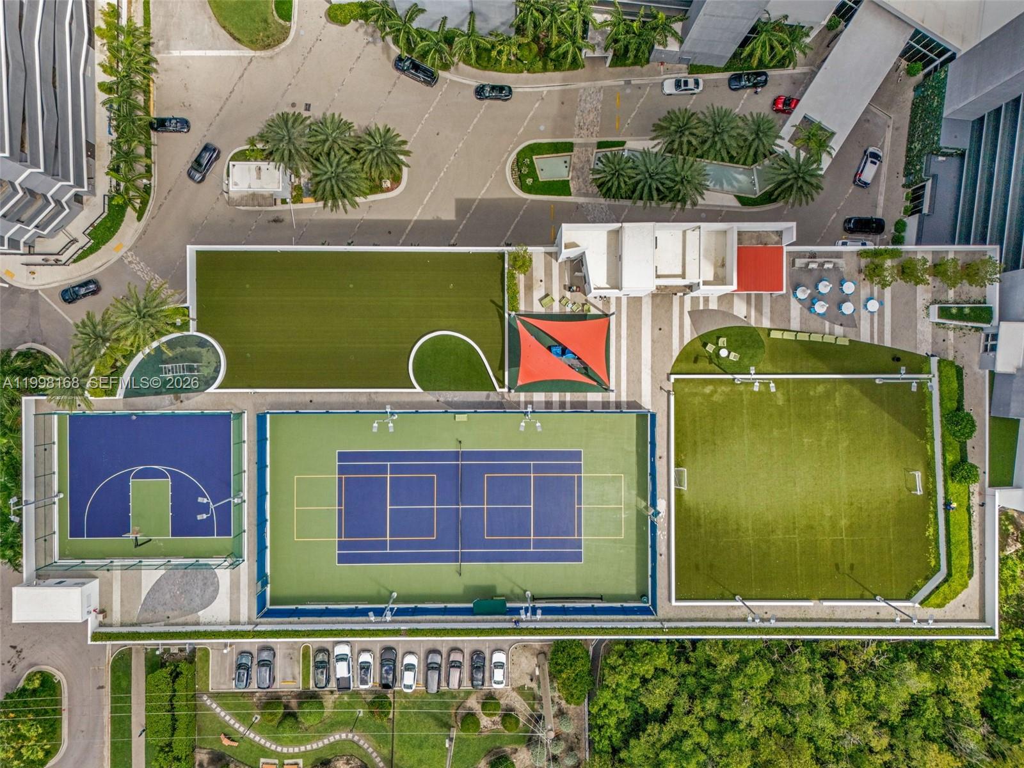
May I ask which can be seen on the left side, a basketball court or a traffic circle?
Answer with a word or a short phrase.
basketball court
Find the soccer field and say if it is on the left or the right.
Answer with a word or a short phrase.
right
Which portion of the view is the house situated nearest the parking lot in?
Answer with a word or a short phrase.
bottom left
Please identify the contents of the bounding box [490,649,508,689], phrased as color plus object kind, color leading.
white car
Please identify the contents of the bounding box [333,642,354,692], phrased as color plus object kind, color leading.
white truck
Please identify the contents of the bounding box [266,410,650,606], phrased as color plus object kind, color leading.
green tennis court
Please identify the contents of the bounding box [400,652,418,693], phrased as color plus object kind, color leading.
white car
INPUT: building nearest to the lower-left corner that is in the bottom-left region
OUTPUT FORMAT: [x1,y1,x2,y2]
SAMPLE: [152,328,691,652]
[12,579,98,624]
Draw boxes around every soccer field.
[670,358,948,606]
